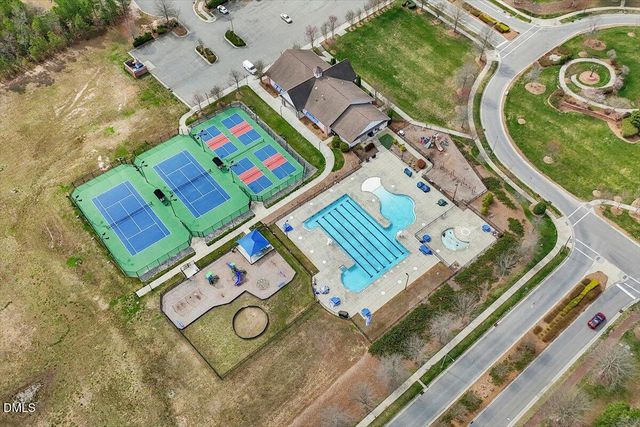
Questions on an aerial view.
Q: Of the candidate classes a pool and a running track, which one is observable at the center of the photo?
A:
pool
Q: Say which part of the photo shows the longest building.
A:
top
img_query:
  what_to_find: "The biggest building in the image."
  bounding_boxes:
[266,49,391,148]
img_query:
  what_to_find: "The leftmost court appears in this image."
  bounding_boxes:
[71,163,192,278]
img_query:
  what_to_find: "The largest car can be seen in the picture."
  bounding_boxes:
[589,312,608,328]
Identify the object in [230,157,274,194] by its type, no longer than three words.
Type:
sports court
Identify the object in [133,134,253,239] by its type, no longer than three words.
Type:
tennis court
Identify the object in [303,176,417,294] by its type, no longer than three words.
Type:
swimming pool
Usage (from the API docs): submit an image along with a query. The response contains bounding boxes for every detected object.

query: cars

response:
[217,4,228,13]
[589,312,608,328]
[243,61,255,73]
[281,13,291,21]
